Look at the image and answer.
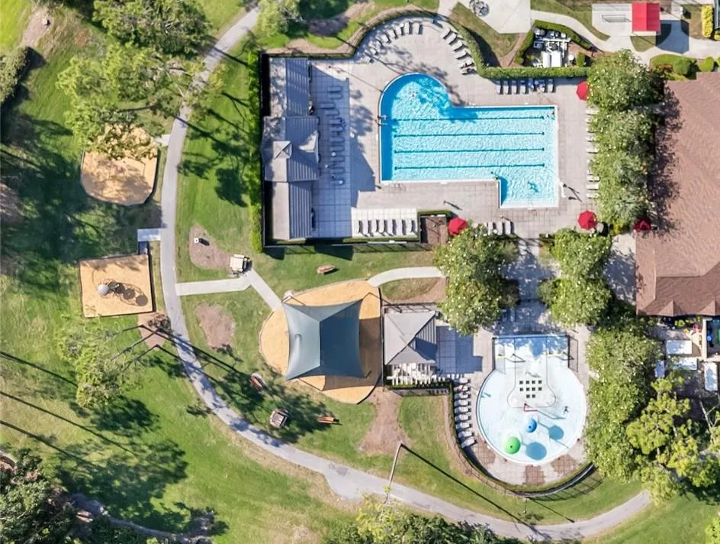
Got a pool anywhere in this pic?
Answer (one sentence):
Yes, the frame does contain a pool.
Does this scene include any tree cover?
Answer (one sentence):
Yes, there is tree cover in the image.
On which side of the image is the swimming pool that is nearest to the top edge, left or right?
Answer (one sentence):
The swimming pool that is nearest to the top edge appears in the right half of the scene.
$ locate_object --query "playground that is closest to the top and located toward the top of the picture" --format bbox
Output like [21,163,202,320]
[81,125,159,205]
